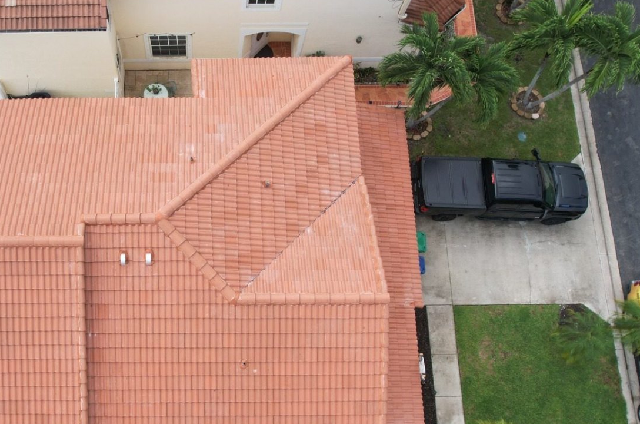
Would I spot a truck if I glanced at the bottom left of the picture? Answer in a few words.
No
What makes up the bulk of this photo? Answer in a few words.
buildings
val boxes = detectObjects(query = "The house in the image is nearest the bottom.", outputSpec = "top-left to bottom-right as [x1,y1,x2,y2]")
[0,53,426,424]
